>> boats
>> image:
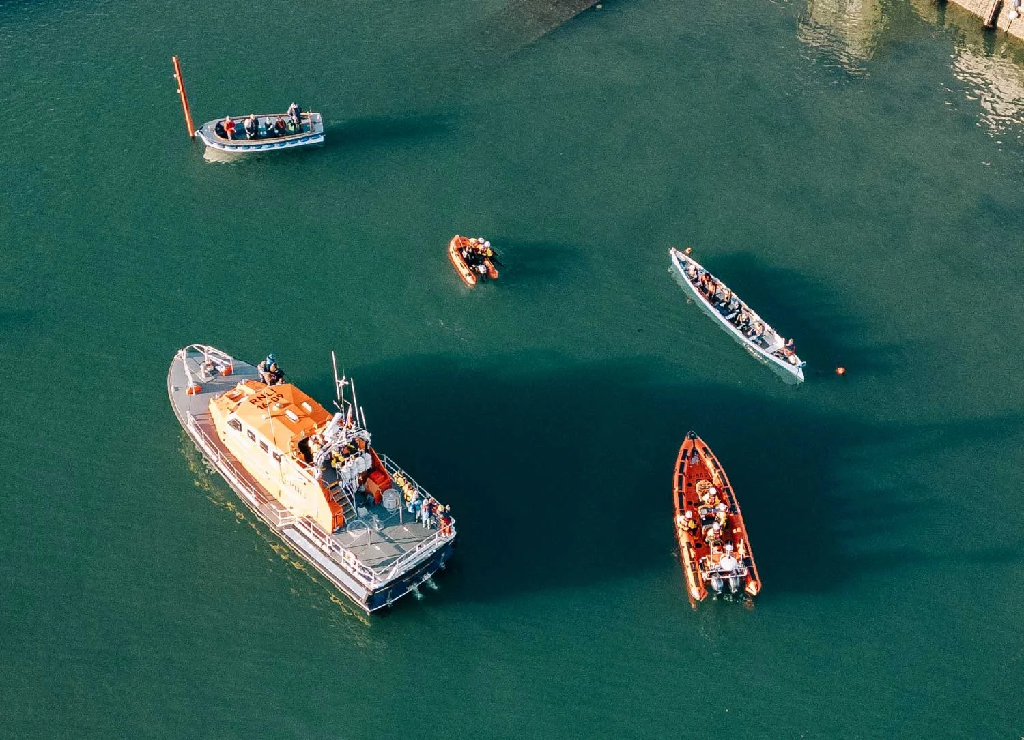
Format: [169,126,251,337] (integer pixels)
[446,235,501,289]
[167,339,457,618]
[671,244,815,389]
[672,431,757,607]
[194,106,330,155]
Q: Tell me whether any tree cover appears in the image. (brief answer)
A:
No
